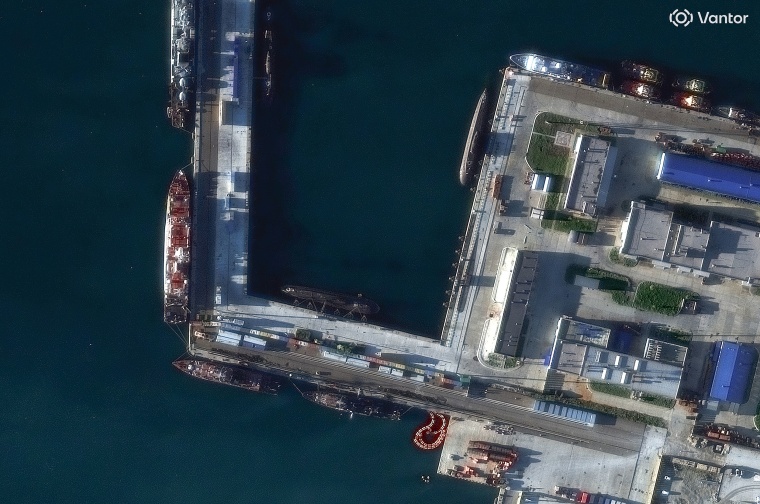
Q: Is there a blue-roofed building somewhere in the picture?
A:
Yes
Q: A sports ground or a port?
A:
port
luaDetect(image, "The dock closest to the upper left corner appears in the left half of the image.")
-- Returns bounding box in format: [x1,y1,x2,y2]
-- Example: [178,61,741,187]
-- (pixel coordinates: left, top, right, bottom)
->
[189,0,255,312]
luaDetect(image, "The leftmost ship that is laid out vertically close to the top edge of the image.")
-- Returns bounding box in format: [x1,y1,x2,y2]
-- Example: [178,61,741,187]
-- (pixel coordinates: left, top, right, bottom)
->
[166,0,197,129]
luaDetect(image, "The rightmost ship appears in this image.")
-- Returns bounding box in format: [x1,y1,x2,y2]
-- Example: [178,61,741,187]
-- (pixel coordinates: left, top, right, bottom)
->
[716,105,760,125]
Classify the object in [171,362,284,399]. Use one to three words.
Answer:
ship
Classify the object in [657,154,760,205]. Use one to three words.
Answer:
building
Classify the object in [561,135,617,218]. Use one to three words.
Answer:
building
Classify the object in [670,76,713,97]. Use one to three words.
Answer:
boat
